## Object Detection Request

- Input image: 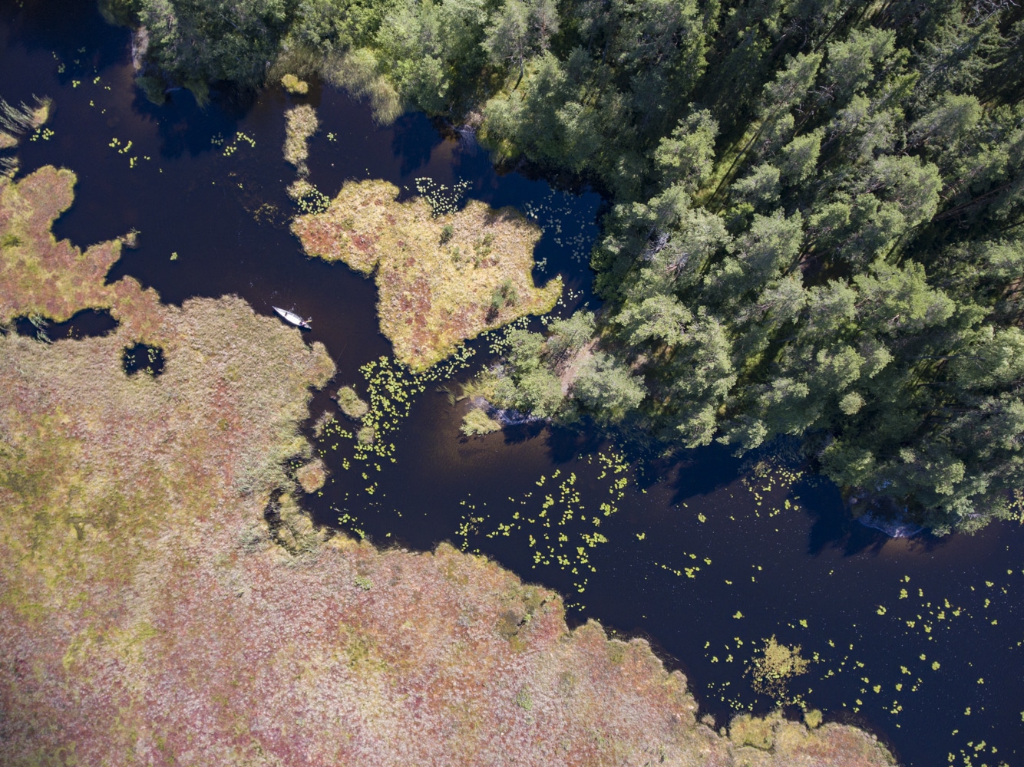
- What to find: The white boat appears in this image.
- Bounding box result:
[271,306,311,329]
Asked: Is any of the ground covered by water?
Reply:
Yes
